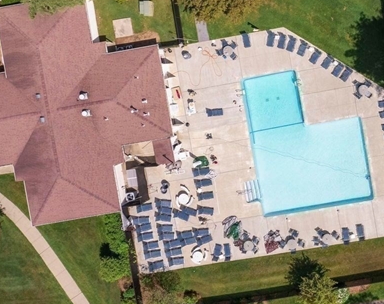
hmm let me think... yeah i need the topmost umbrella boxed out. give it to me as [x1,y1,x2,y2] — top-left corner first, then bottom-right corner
[193,157,209,169]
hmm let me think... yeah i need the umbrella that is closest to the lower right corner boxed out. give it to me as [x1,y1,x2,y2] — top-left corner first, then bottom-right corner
[265,235,278,254]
